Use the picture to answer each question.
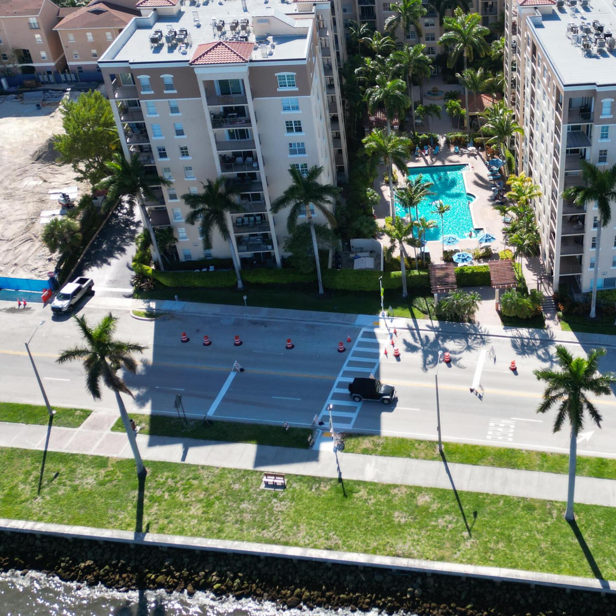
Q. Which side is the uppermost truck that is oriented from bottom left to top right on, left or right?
left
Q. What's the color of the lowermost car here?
black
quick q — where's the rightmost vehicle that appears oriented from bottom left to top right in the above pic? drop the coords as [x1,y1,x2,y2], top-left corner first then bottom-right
[56,280,95,314]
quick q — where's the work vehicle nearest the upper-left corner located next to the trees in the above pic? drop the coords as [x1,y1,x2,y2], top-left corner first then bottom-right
[56,184,72,211]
